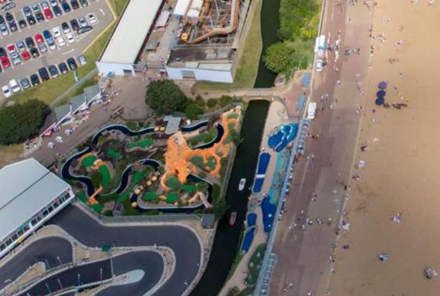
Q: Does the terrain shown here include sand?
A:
Yes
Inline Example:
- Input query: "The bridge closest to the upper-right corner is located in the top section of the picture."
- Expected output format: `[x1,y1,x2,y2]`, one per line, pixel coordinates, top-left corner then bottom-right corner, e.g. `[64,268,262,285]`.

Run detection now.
[236,81,281,103]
